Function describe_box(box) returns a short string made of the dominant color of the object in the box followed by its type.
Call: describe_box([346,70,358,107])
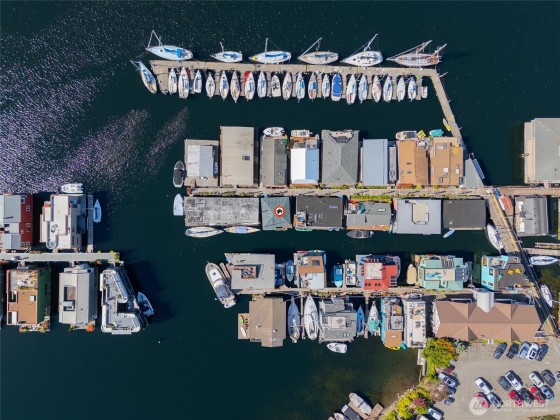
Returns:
white boat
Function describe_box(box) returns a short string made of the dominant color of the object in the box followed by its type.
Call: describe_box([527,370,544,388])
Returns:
white car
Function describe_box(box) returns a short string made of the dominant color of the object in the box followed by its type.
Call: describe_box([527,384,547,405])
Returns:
red vehicle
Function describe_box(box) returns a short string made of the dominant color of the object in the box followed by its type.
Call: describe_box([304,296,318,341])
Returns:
white boat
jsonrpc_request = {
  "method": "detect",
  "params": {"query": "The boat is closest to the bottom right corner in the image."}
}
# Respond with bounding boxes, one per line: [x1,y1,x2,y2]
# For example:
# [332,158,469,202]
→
[540,284,560,310]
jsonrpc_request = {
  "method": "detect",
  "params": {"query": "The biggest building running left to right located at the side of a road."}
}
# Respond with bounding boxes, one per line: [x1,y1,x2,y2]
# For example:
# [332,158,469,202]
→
[432,285,541,341]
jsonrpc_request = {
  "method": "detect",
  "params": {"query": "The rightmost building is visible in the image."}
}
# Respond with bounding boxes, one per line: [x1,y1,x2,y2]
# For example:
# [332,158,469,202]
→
[523,118,560,186]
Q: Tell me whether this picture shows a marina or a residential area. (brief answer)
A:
marina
